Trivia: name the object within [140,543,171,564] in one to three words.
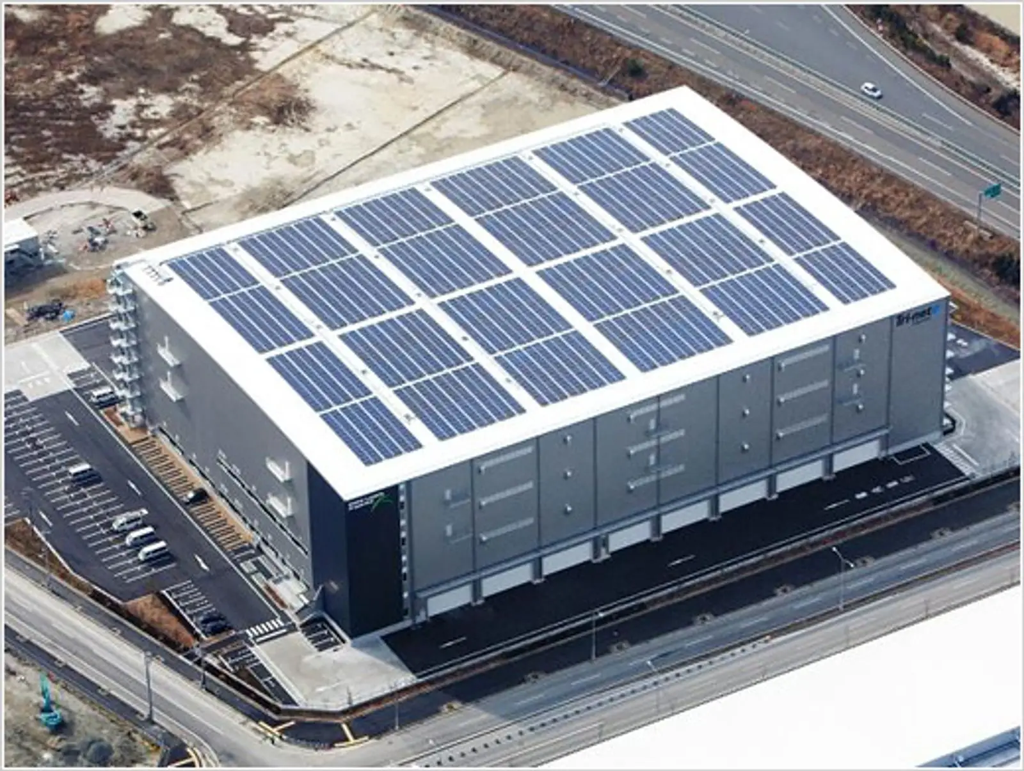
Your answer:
vehicle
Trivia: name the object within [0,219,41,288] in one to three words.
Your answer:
building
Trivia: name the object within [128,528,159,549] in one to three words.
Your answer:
vehicle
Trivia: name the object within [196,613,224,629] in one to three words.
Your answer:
car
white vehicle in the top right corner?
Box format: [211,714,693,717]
[859,84,883,98]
